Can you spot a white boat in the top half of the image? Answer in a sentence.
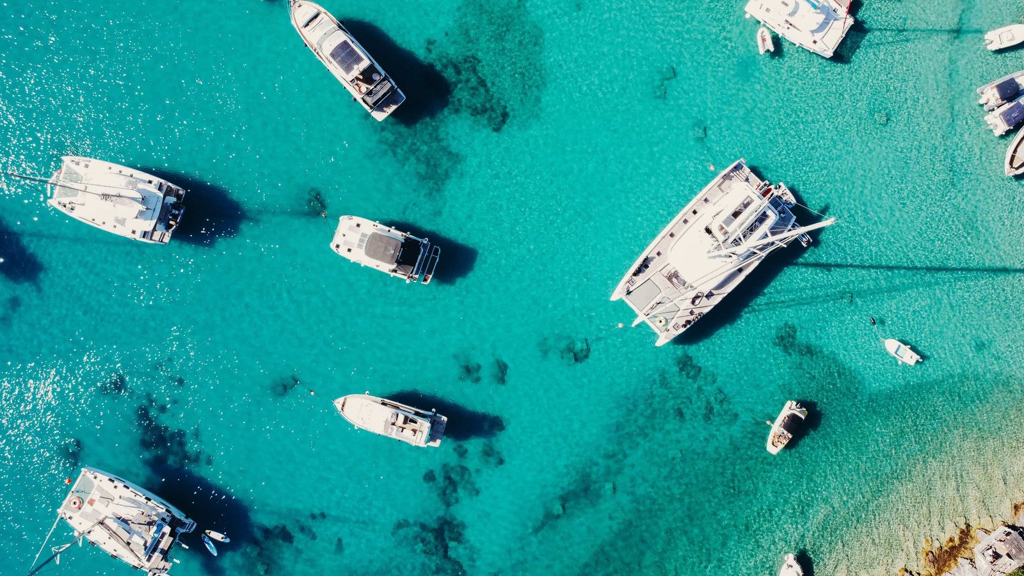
Yes, a white boat is visible in the top half of the image.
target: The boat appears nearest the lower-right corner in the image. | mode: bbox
[779,553,804,576]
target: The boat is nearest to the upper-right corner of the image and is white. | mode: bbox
[982,24,1024,52]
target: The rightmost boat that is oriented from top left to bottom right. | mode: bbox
[875,325,923,366]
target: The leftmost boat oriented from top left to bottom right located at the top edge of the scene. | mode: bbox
[287,0,406,122]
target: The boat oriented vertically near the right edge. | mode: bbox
[1002,124,1024,176]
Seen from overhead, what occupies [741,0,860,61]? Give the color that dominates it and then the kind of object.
white boat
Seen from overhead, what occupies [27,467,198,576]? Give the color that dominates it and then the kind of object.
white boat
